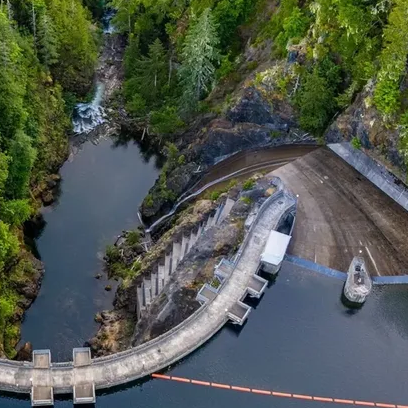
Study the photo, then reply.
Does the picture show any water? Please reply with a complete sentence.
Yes, there is water in the image.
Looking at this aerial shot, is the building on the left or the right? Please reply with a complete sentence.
It is on the right.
